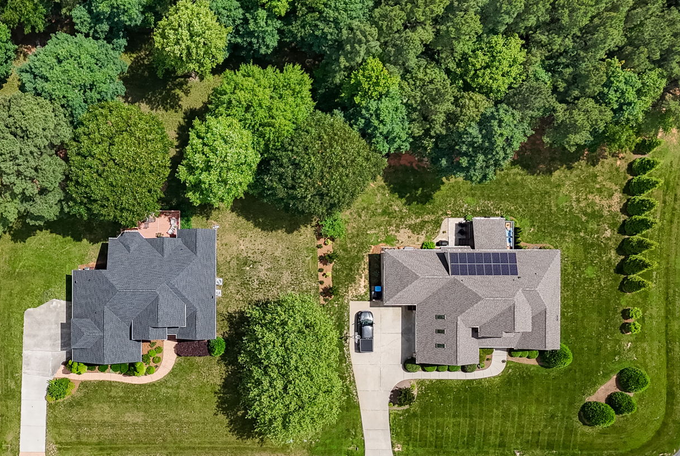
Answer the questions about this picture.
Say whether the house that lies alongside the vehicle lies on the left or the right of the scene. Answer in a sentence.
You can find the house that lies alongside the vehicle on the right side of the picture.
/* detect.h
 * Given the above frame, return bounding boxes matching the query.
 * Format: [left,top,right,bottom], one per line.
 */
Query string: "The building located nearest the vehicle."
[379,218,561,367]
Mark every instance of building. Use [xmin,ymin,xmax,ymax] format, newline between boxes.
[379,218,561,367]
[69,227,217,365]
